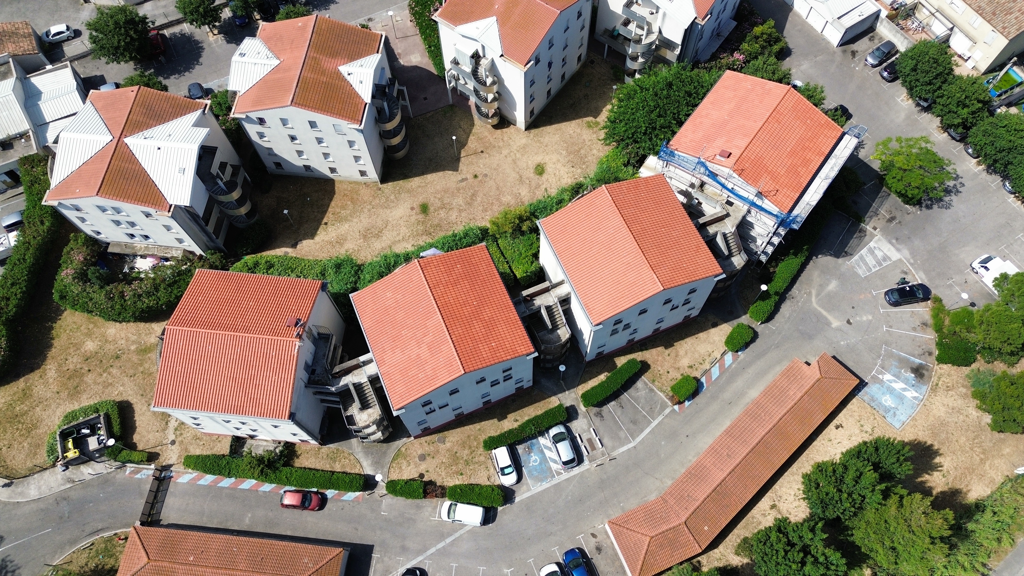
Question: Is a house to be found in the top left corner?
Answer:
Yes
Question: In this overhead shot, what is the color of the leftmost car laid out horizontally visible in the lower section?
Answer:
red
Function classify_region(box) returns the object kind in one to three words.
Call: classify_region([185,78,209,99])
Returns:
car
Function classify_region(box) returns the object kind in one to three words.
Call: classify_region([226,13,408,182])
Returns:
house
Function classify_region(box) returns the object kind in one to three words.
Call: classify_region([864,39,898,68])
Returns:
car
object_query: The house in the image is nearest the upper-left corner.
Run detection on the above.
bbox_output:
[0,13,51,76]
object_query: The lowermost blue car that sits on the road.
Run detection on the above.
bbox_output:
[565,548,592,576]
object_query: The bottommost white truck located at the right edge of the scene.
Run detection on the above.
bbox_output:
[965,255,1024,288]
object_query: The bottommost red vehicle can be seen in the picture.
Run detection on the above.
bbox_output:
[278,490,323,512]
